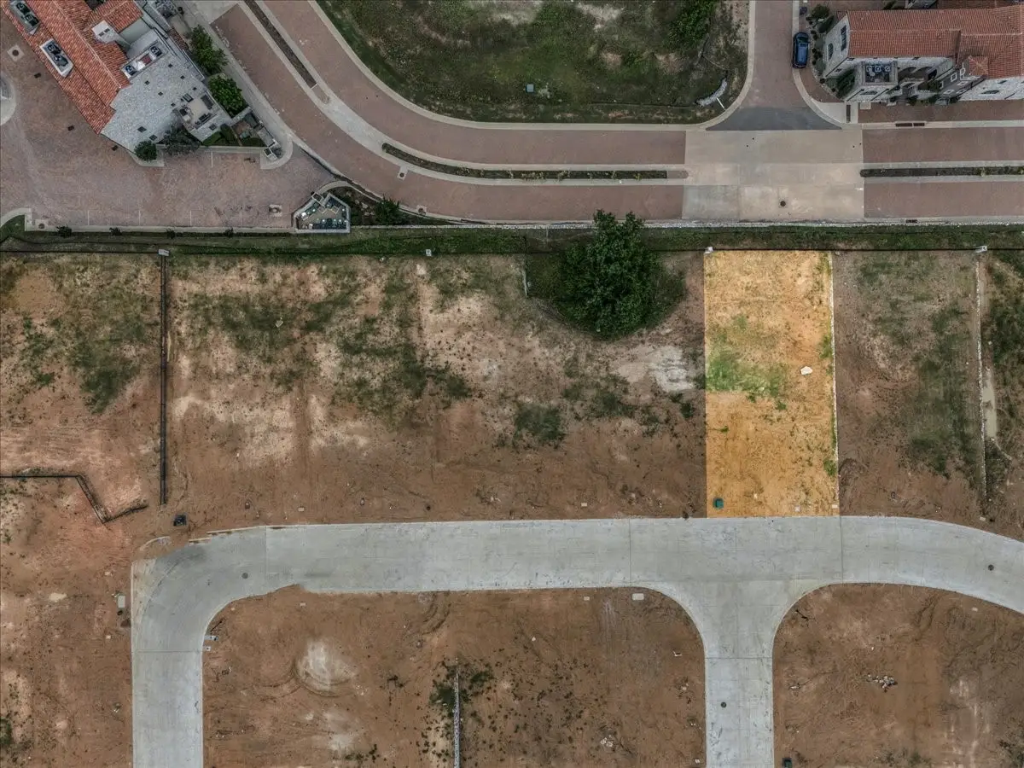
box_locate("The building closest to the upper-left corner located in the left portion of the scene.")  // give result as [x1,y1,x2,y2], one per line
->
[0,0,240,159]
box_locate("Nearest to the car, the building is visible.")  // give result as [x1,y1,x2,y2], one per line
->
[826,4,1024,100]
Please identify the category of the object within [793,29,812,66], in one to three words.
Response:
car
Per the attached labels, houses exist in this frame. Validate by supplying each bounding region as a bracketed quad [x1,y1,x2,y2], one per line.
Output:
[826,4,1024,100]
[0,0,240,159]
